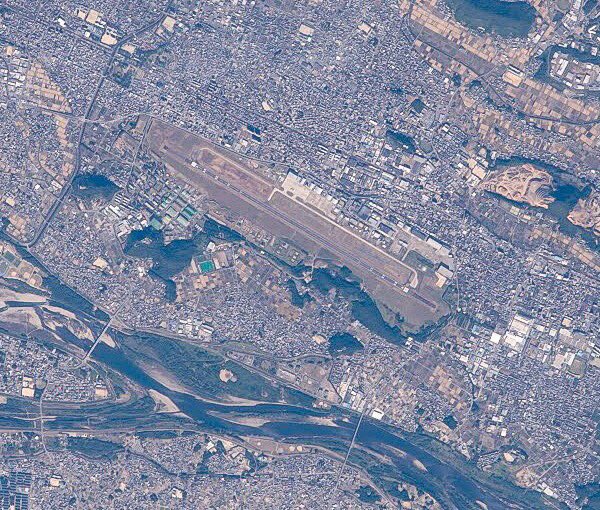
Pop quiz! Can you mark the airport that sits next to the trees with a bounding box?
[147,117,460,331]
